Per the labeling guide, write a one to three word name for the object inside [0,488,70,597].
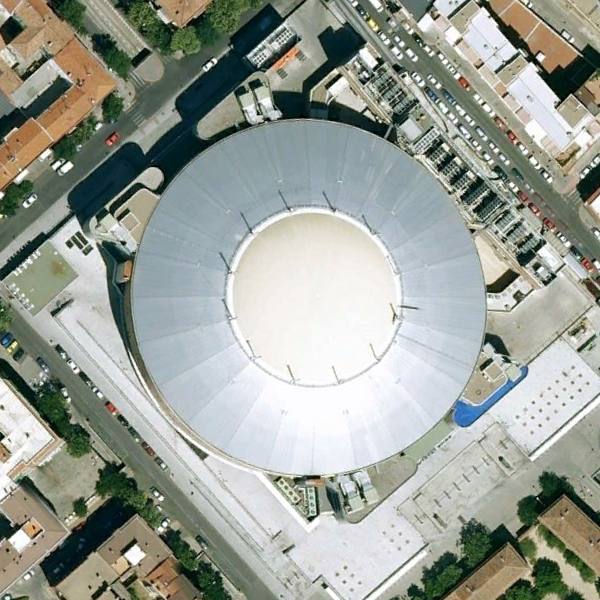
building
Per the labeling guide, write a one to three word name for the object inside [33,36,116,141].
house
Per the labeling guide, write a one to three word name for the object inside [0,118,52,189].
house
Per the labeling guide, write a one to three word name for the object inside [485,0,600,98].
building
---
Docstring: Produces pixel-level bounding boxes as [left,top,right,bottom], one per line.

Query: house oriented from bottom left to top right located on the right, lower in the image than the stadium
[441,542,530,600]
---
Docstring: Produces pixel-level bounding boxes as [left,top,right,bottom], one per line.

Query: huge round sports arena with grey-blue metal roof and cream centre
[81,71,529,533]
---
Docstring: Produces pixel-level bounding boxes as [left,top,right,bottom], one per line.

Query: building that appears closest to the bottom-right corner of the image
[537,495,600,577]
